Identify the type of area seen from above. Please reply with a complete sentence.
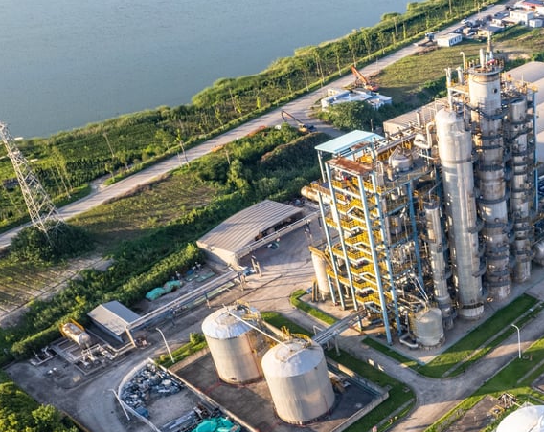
This looks like an industrial area.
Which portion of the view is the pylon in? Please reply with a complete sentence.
The pylon is in the left part of the image.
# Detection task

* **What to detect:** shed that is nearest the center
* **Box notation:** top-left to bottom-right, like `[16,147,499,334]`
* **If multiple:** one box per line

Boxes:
[191,202,304,267]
